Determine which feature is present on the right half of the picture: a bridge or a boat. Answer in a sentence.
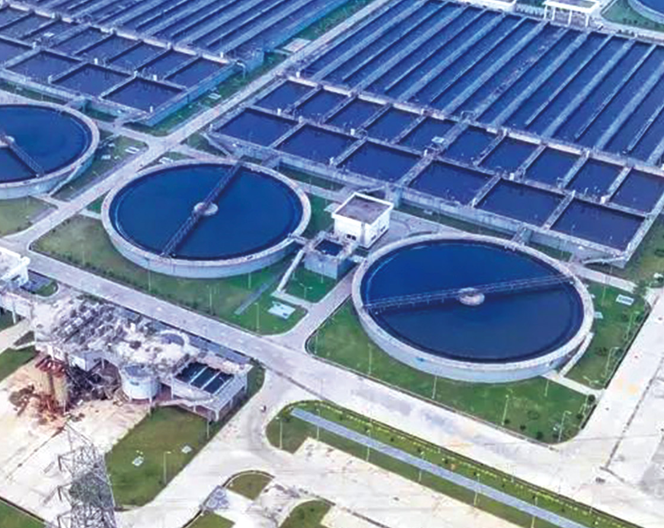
What appears on the right half of the picture is a bridge.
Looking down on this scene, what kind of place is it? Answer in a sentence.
It's an industrial area.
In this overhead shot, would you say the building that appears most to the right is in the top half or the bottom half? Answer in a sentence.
It is in the top half that the building that appears most to the right appears.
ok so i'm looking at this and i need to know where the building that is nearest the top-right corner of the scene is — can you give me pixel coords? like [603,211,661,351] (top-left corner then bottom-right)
[540,0,600,32]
